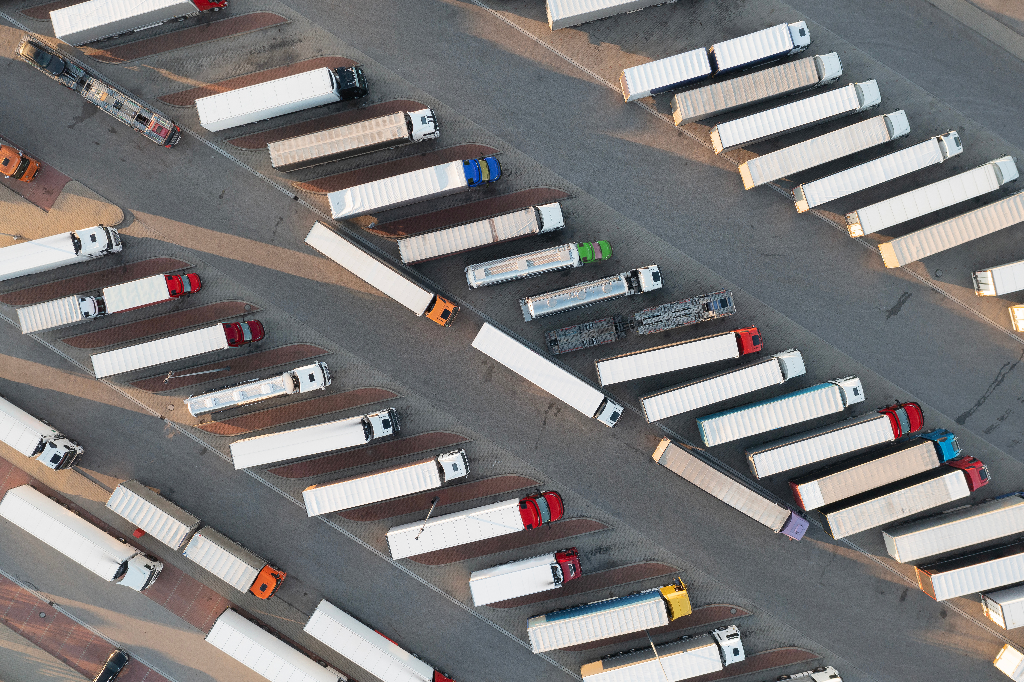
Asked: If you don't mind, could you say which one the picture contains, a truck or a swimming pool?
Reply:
truck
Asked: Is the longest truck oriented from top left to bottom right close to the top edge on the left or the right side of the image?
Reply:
left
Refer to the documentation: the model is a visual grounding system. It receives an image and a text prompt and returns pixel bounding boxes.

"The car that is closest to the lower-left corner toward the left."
[94,648,129,682]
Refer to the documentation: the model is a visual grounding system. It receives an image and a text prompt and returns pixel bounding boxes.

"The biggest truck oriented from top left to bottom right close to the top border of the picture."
[14,32,190,152]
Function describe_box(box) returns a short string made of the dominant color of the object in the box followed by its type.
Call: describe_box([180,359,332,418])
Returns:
white truck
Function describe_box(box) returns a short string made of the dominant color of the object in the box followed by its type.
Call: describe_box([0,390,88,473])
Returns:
white truck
